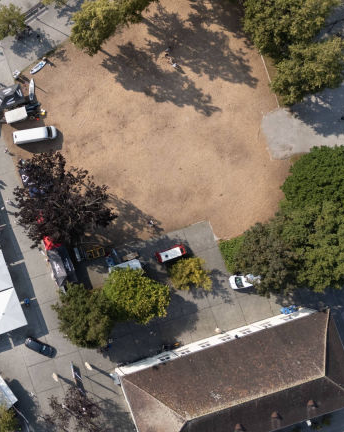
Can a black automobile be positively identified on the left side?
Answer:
Yes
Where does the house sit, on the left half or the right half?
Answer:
right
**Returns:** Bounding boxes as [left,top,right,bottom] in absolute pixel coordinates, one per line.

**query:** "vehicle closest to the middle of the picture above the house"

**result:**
[150,241,187,264]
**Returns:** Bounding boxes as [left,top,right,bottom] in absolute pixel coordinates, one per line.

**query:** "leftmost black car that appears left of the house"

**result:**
[23,333,58,359]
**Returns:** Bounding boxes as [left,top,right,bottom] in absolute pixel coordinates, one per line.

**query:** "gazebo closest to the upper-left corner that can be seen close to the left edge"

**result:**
[0,84,25,111]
